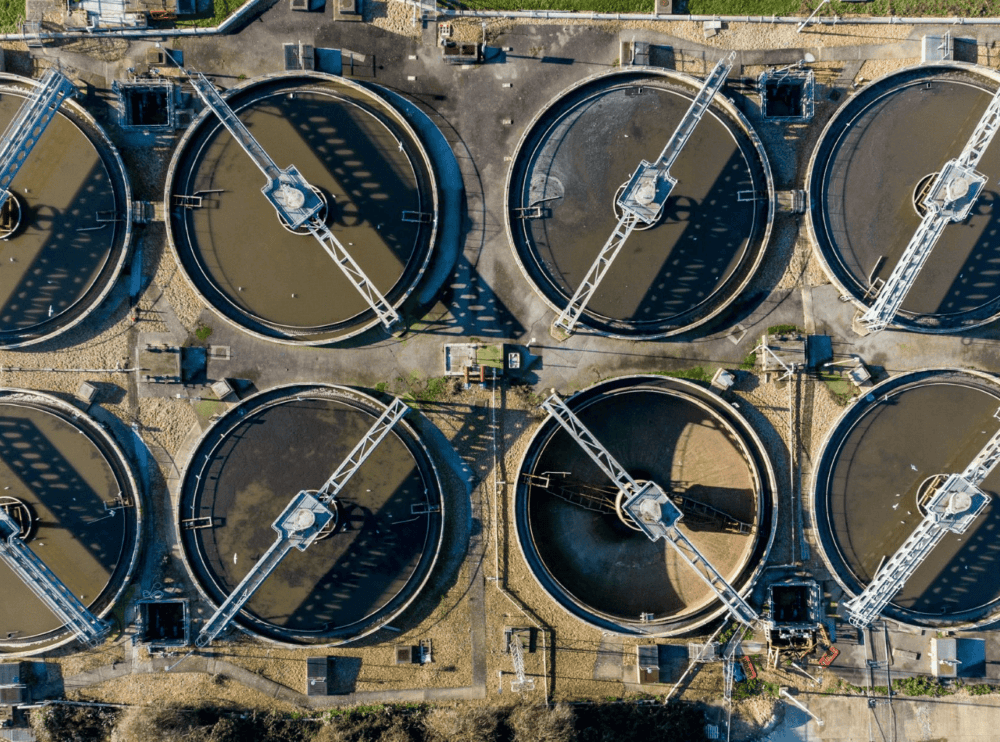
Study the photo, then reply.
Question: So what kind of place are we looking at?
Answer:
industrial area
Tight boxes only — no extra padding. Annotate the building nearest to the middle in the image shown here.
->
[444,343,503,377]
